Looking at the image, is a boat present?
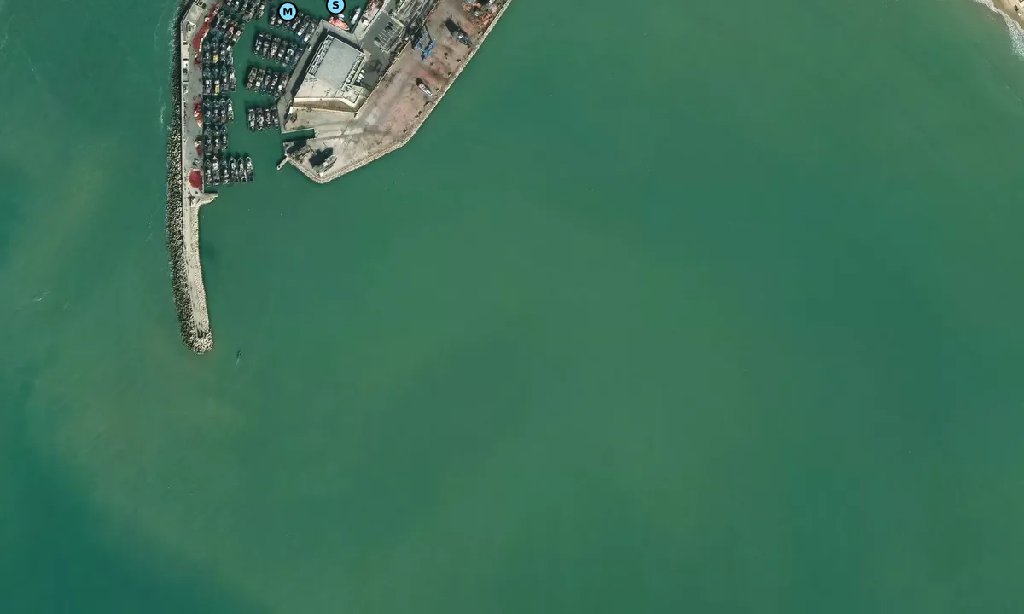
Yes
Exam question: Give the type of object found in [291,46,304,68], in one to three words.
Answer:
boat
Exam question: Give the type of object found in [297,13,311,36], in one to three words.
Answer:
boat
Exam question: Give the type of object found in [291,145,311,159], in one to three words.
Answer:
vessel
